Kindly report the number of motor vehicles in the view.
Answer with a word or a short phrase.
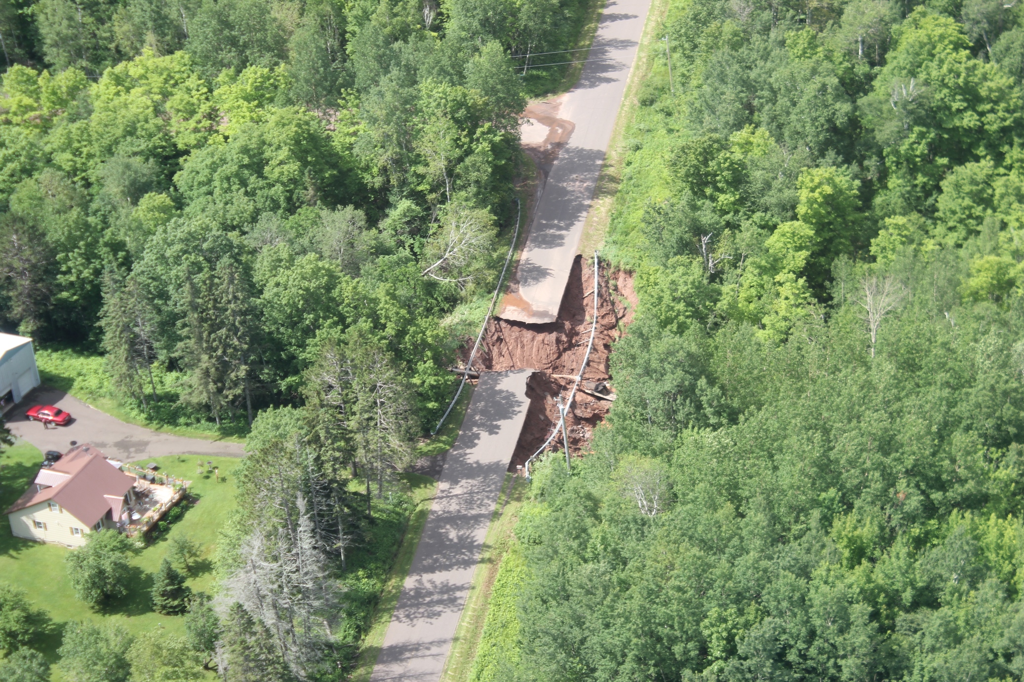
2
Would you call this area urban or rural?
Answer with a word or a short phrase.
rural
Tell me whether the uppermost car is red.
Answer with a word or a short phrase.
Yes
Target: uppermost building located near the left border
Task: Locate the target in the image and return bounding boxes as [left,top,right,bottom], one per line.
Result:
[0,331,52,434]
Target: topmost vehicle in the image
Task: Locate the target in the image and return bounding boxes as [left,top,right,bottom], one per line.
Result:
[21,403,72,426]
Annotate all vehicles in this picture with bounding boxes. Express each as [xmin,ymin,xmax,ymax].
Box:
[21,403,72,426]
[37,444,72,476]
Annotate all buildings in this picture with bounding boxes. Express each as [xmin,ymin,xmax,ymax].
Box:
[6,441,140,554]
[0,331,52,434]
